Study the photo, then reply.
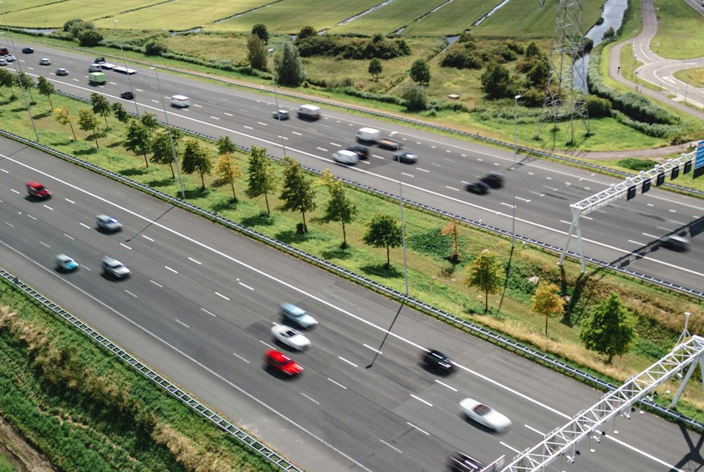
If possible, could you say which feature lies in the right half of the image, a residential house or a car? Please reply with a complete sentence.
There is a car in the right half of the image.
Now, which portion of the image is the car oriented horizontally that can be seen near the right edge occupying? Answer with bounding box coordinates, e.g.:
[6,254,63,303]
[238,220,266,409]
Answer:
[659,236,693,252]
